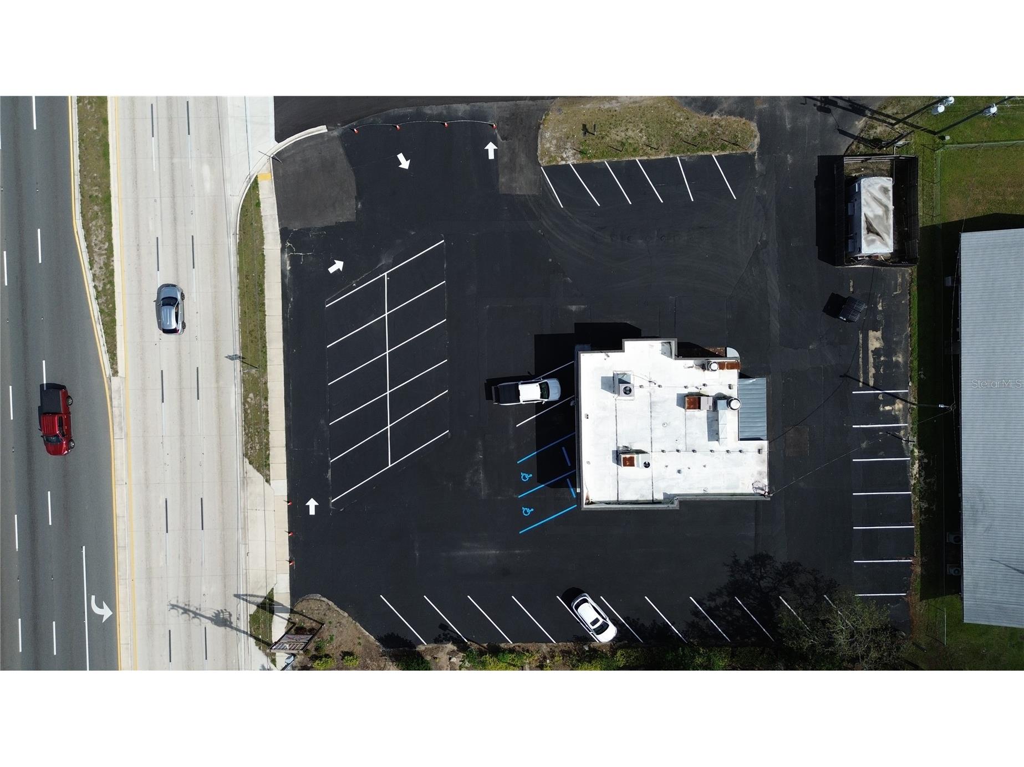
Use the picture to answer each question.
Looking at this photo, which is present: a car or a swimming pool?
car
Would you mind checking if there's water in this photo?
No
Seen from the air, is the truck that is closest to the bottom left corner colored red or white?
red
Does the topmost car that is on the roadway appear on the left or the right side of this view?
left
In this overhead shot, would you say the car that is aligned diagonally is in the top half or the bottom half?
bottom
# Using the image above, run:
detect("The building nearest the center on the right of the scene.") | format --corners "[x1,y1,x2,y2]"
[574,339,769,510]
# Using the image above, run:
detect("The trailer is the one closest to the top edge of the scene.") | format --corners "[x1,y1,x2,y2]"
[847,150,895,256]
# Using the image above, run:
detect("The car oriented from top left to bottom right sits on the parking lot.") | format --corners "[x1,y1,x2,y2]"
[572,592,617,644]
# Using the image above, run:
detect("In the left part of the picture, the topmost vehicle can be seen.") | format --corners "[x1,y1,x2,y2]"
[155,284,186,336]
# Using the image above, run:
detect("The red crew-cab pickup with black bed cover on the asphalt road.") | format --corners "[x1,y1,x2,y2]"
[41,389,76,456]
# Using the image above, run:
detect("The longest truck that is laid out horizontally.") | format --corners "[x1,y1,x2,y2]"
[490,377,562,405]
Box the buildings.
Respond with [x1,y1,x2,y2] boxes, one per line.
[957,228,1024,629]
[574,339,769,510]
